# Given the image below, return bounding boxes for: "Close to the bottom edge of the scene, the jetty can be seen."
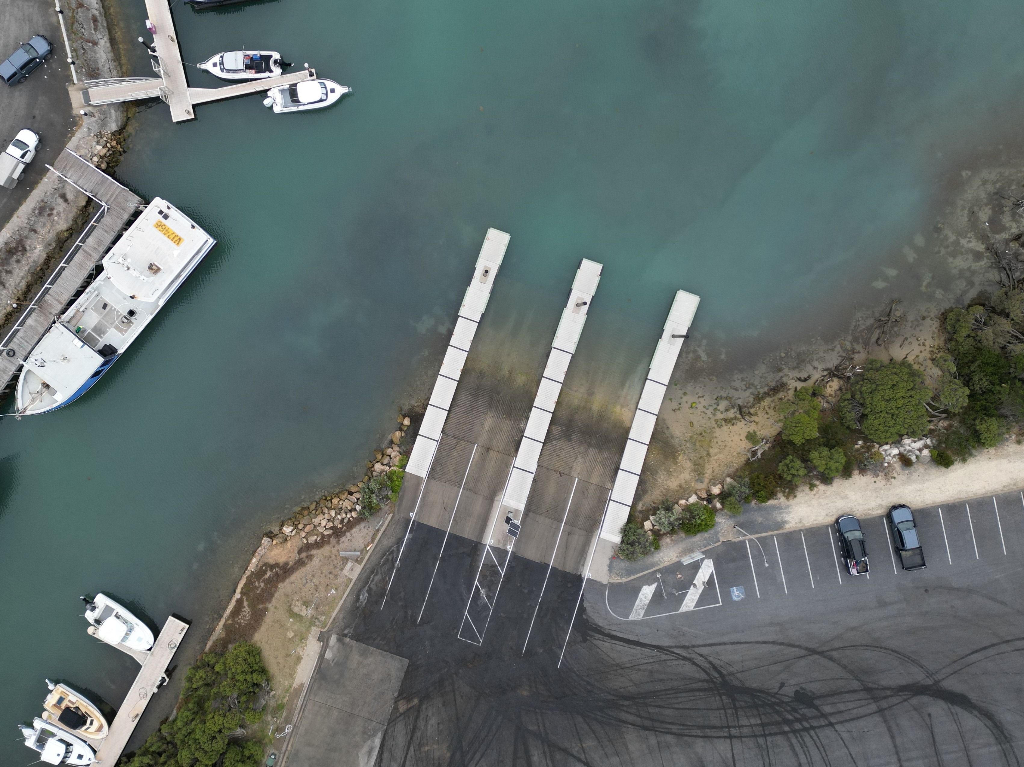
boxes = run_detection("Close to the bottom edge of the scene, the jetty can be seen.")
[39,615,191,767]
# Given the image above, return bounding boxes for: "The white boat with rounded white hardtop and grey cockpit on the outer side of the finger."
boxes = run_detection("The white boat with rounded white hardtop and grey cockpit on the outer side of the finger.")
[261,76,354,118]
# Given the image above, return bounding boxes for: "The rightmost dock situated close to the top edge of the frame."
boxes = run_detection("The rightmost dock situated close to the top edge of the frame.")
[145,0,317,123]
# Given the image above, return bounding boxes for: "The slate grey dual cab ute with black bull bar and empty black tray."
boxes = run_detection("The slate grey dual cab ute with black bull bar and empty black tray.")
[887,503,927,570]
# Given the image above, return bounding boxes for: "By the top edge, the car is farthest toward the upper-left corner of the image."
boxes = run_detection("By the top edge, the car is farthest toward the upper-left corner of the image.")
[0,30,58,88]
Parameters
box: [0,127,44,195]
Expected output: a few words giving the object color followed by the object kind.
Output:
white vehicle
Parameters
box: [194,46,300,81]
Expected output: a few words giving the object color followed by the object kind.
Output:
white boat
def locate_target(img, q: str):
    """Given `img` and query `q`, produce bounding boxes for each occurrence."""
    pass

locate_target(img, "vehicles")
[834,514,874,578]
[0,127,44,195]
[887,503,927,570]
[0,30,58,88]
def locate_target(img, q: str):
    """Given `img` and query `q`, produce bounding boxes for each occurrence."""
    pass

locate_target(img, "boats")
[261,76,354,118]
[43,676,110,739]
[1,197,215,427]
[194,46,300,81]
[83,591,155,652]
[15,718,100,767]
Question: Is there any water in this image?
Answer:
Yes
